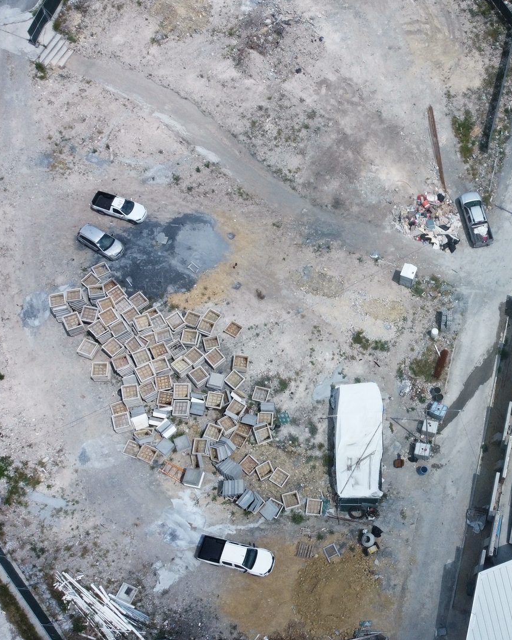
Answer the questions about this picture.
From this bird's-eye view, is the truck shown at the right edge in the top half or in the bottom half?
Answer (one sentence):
Seen from above, the truck shown at the right edge lies in the top half of the view.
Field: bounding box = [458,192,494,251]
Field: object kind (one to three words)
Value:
truck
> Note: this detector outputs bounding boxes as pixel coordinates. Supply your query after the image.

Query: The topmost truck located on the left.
[86,188,148,227]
